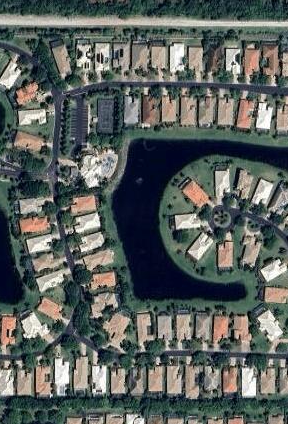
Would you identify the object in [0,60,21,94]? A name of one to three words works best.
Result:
house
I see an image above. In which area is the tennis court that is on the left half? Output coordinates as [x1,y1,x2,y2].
[98,99,114,134]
